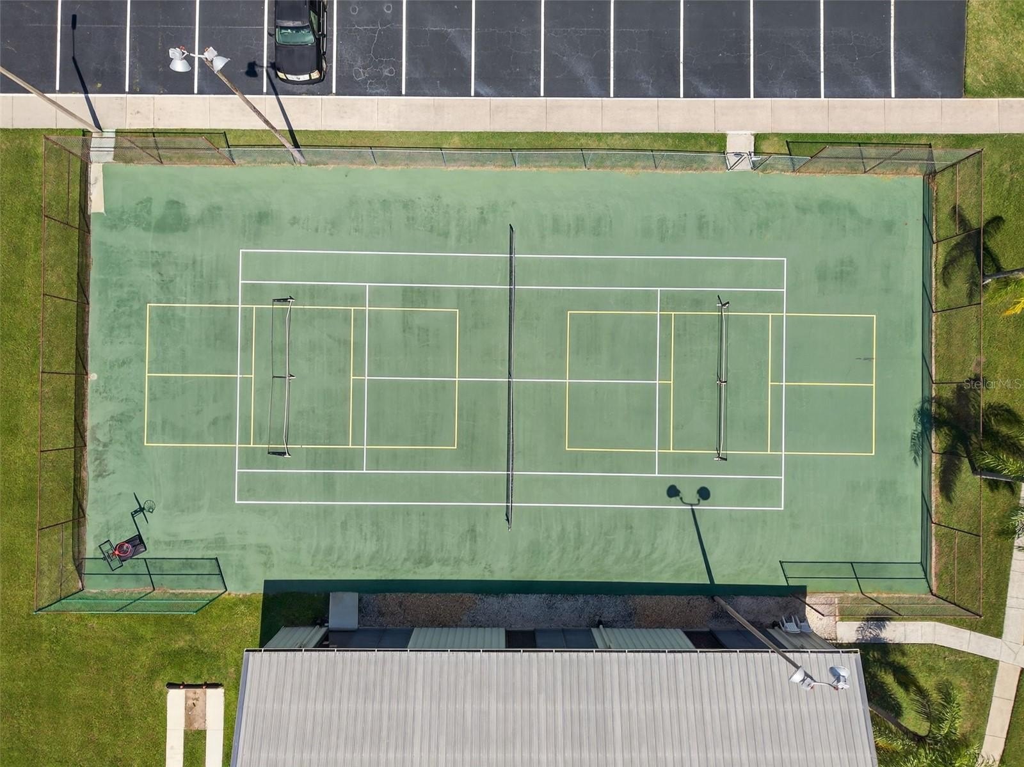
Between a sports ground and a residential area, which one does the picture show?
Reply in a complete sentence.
What you see here is a sports ground.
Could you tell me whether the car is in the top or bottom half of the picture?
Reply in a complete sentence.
The top half of the photo is where the car is.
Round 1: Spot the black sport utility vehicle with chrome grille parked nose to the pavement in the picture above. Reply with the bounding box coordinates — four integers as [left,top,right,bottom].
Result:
[267,0,329,87]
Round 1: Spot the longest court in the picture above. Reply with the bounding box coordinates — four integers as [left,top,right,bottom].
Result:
[84,162,935,594]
